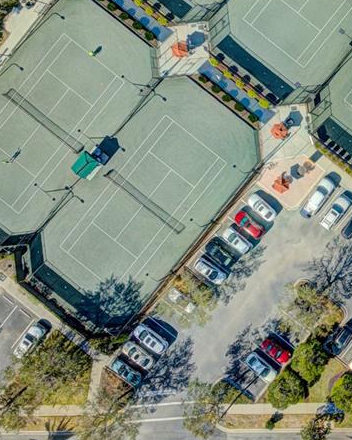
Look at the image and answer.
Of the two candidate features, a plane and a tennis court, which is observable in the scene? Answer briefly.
tennis court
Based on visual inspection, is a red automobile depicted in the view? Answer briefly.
Yes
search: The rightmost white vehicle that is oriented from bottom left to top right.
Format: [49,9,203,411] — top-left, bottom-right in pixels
[320,195,349,229]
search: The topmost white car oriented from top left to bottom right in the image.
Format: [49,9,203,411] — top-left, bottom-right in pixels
[245,194,277,223]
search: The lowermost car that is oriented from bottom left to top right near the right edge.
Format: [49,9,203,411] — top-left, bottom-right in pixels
[325,322,352,357]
